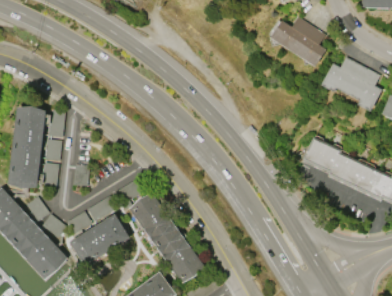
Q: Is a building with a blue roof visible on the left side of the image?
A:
No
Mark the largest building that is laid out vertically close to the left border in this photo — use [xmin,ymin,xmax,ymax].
[8,107,46,188]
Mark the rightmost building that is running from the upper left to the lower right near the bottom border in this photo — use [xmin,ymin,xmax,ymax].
[130,196,203,282]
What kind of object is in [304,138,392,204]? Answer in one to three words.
building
